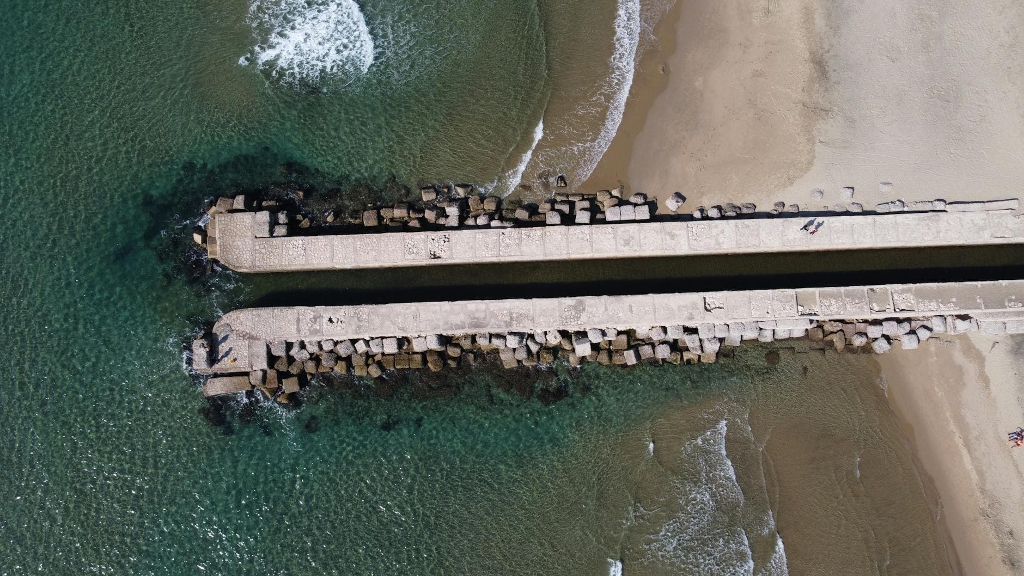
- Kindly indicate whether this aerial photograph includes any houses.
No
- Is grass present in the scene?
No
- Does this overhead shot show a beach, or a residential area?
beach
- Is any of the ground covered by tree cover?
No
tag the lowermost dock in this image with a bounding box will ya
[212,279,1024,371]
